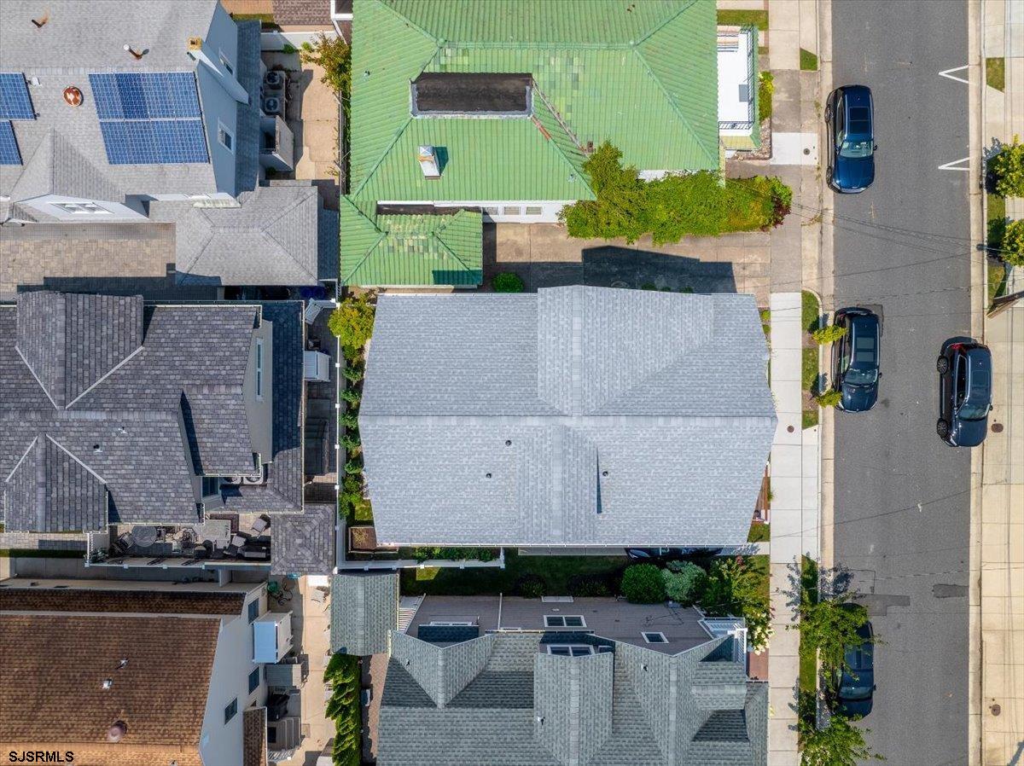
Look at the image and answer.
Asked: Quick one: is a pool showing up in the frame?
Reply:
No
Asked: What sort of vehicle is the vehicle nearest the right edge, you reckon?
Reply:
automobile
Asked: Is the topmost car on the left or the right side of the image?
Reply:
right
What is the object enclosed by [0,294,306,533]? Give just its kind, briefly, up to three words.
house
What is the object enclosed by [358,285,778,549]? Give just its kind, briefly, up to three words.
house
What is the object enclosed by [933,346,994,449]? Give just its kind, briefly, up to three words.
car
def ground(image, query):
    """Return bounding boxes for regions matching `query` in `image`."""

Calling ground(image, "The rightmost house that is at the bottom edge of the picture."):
[376,594,768,766]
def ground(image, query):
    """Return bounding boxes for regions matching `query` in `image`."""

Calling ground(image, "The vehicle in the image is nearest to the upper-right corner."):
[821,87,877,197]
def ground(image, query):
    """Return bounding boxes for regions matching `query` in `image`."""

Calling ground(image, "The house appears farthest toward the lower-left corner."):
[0,584,272,766]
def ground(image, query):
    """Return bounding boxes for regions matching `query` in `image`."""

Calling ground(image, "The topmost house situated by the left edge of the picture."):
[0,0,329,295]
